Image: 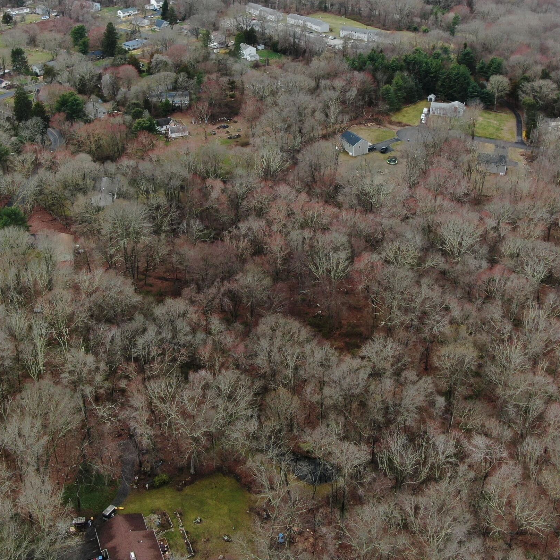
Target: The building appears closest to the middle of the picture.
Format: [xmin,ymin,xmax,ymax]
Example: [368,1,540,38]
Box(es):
[327,124,370,156]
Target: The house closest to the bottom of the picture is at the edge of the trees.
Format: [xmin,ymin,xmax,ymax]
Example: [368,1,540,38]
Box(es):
[95,510,180,560]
